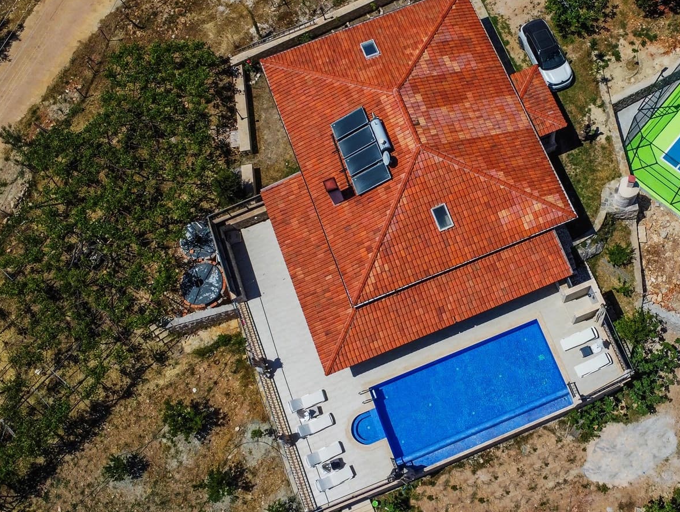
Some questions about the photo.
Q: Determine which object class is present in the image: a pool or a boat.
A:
pool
